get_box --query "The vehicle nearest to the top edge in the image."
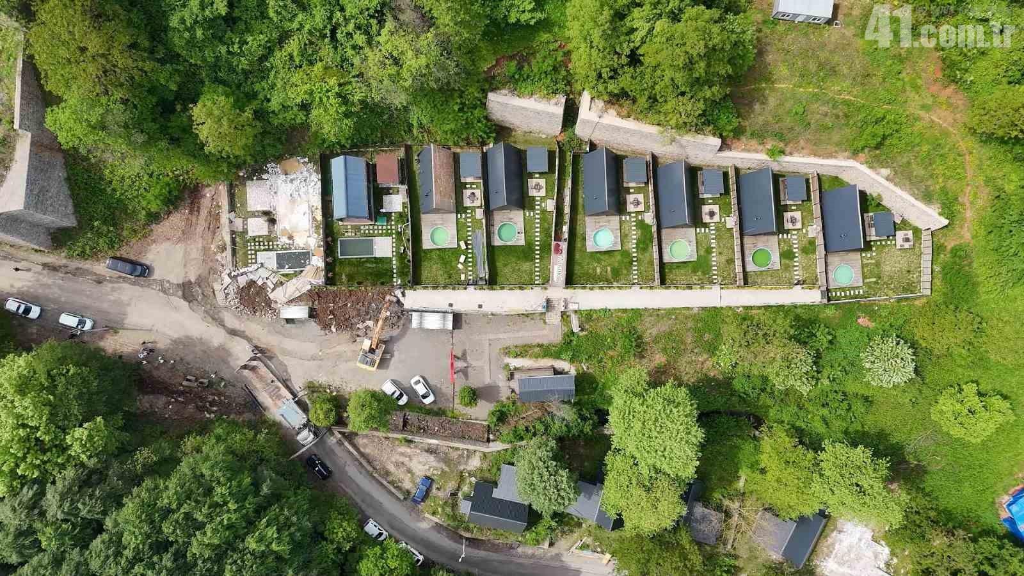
[104,255,150,278]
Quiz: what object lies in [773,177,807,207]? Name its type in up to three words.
shed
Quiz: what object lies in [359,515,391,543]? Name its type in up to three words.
van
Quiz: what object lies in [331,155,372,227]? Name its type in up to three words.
house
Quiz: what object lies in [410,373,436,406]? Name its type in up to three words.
car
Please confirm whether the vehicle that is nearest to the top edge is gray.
Yes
